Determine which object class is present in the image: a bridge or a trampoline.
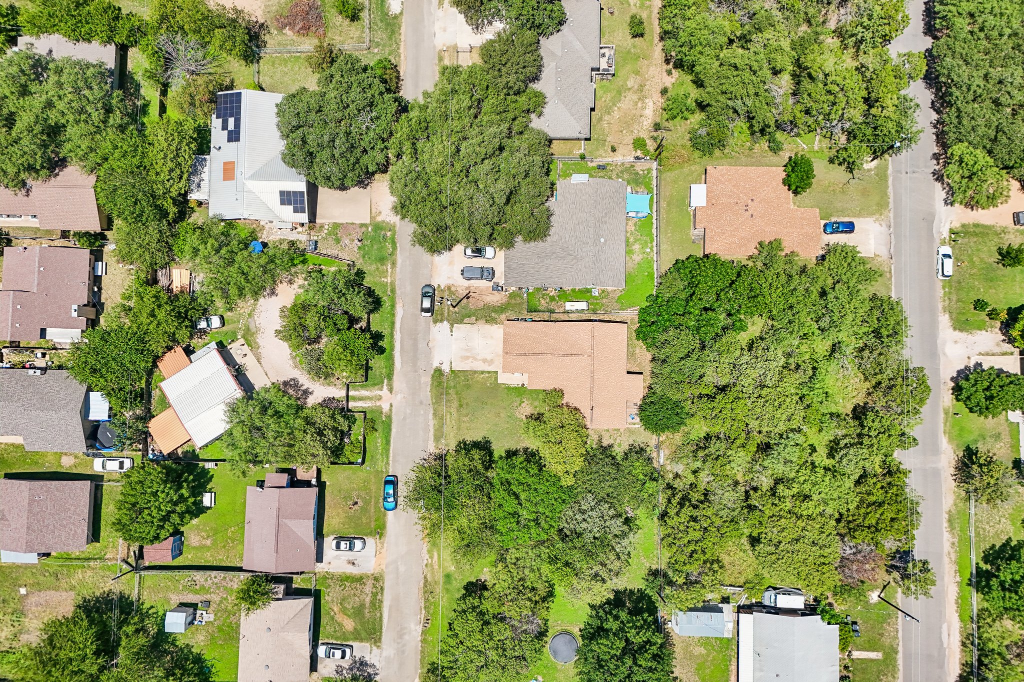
trampoline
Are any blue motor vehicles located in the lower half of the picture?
Yes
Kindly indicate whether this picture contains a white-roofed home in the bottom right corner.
Yes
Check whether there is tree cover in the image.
Yes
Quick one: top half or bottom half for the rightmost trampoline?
bottom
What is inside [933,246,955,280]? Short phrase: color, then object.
white car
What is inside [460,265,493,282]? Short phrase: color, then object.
gray vehicle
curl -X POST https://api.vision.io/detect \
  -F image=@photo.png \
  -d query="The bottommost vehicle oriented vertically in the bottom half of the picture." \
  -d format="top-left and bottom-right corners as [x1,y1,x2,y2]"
[382,474,399,511]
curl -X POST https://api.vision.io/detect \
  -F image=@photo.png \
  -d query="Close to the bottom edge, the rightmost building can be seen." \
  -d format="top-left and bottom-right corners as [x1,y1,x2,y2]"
[733,608,840,682]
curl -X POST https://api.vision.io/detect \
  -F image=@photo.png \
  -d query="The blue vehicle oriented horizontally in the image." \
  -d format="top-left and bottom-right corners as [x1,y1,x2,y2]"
[821,219,856,236]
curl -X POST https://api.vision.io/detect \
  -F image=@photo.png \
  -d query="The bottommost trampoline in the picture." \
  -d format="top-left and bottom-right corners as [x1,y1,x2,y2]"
[548,629,580,663]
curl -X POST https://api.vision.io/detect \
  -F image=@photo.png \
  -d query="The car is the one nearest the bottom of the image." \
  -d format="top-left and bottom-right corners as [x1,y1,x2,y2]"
[318,641,354,660]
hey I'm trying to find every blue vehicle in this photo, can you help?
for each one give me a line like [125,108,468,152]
[821,219,856,236]
[382,474,399,511]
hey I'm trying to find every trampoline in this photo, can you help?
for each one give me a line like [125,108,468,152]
[89,421,122,450]
[548,629,580,663]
